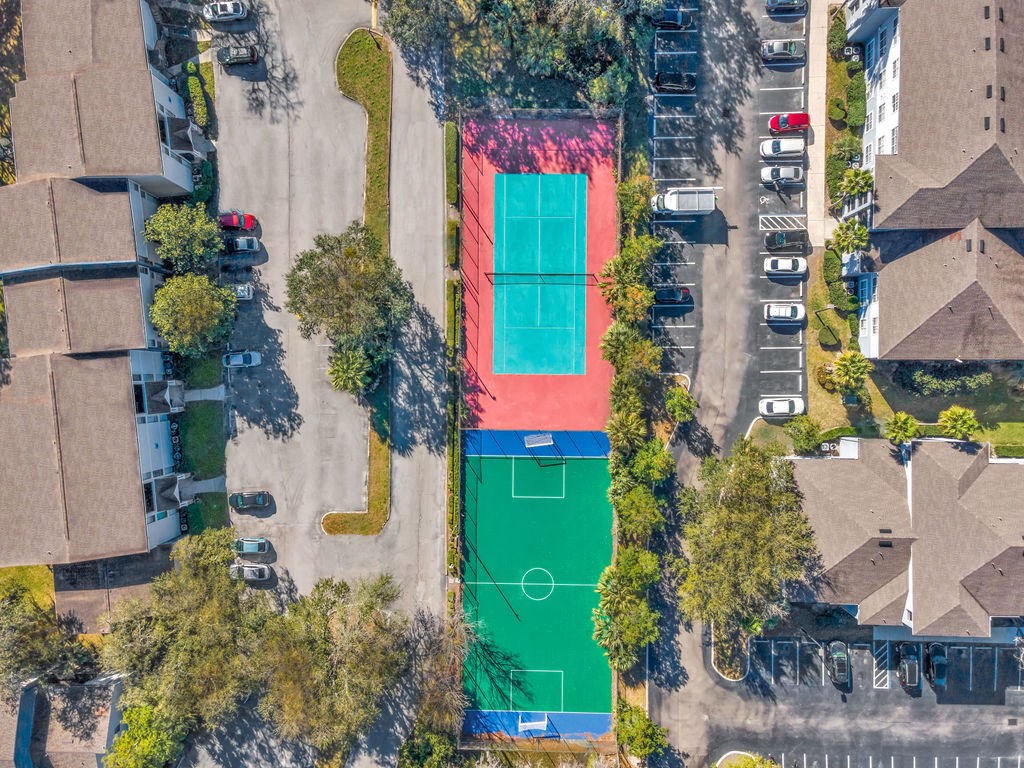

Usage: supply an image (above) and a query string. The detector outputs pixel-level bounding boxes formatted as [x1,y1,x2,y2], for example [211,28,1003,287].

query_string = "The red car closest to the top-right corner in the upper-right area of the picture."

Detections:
[768,112,811,134]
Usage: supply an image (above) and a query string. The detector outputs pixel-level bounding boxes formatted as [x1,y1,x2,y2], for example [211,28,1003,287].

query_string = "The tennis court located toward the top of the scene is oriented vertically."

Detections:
[461,108,616,431]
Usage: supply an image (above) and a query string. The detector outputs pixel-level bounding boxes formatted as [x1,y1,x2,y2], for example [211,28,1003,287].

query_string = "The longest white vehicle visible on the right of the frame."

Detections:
[652,185,725,213]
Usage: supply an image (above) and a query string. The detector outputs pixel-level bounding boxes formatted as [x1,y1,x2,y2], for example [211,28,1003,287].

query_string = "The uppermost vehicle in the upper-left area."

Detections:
[204,0,247,22]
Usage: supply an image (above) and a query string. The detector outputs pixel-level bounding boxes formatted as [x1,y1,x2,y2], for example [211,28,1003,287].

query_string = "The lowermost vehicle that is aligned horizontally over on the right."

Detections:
[760,397,801,417]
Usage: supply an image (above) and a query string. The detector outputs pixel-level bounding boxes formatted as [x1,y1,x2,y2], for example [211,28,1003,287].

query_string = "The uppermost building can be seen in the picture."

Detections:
[23,0,159,82]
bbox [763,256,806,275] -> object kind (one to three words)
car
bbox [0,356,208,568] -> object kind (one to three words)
house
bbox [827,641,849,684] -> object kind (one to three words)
car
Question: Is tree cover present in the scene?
Yes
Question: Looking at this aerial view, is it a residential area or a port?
residential area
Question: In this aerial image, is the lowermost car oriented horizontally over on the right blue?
No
